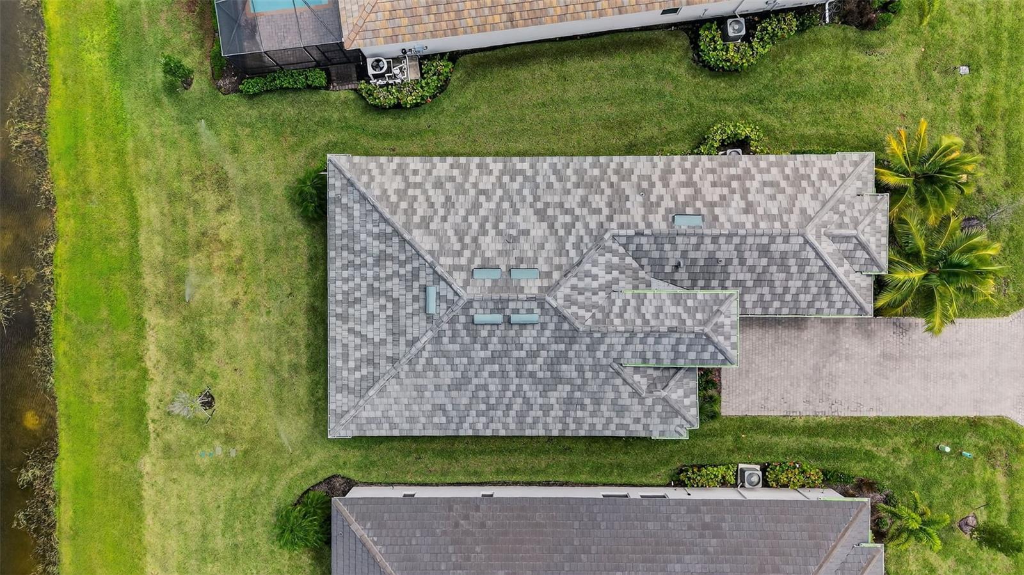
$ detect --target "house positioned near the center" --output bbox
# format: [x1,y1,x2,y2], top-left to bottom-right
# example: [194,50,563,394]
[318,152,891,441]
